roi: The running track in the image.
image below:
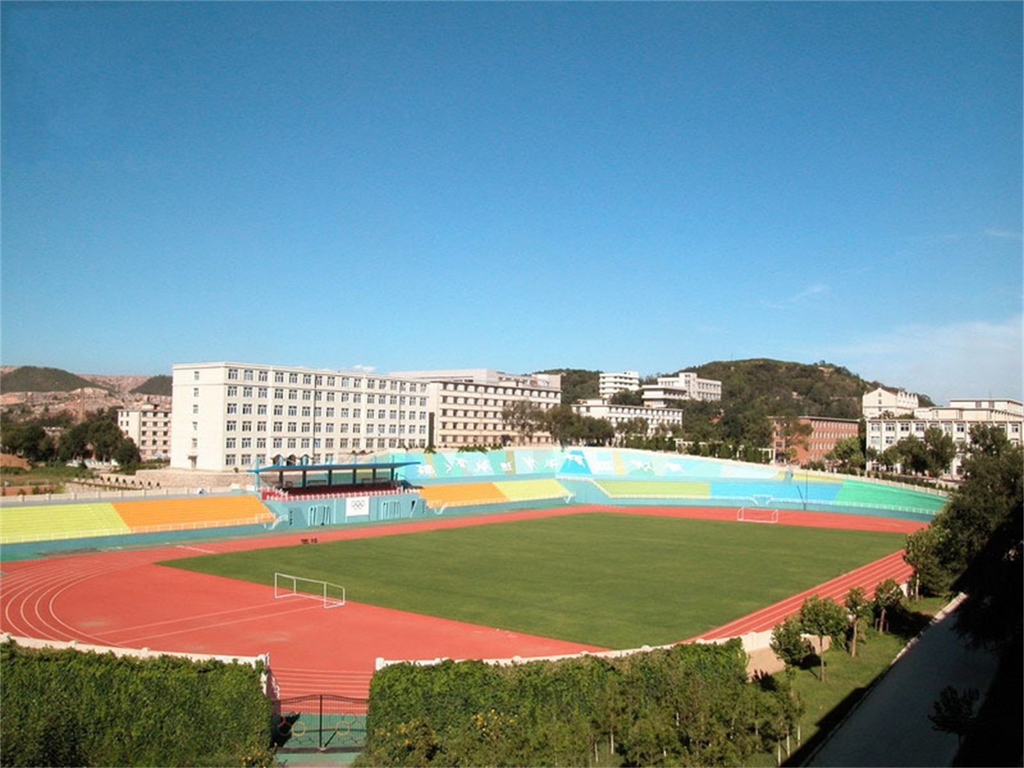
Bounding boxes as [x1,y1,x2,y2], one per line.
[0,505,948,715]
